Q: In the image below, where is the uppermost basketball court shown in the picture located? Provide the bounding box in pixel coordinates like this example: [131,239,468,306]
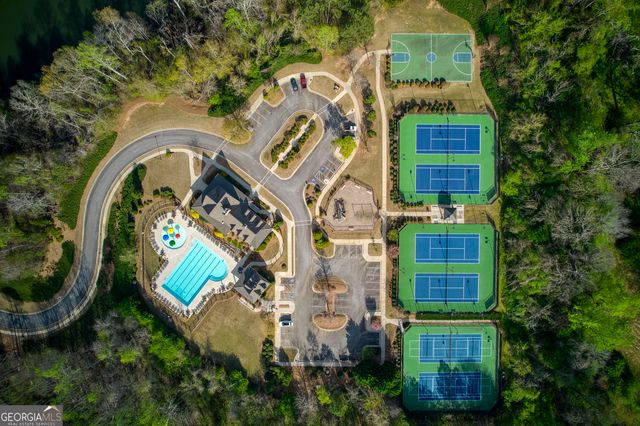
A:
[391,34,471,82]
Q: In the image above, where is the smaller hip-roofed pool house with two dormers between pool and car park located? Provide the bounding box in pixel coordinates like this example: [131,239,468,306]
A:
[229,268,271,307]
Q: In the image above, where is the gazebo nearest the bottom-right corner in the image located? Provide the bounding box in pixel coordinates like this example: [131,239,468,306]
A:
[441,206,457,220]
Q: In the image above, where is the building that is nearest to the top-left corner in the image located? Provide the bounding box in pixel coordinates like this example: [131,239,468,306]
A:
[190,174,273,250]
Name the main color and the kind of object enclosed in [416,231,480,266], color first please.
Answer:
blue tennis court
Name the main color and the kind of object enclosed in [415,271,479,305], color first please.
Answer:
blue tennis court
